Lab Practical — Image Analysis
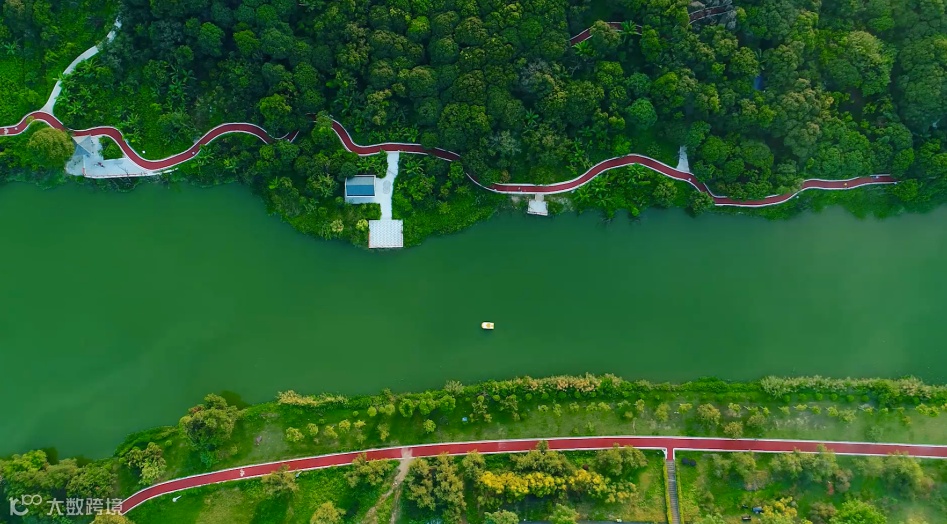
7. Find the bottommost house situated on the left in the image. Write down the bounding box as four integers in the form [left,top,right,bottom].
[345,175,377,198]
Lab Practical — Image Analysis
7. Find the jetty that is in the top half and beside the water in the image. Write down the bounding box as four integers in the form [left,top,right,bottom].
[527,196,548,215]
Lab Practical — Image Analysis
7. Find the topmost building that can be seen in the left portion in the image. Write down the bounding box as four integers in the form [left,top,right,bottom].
[72,137,95,156]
